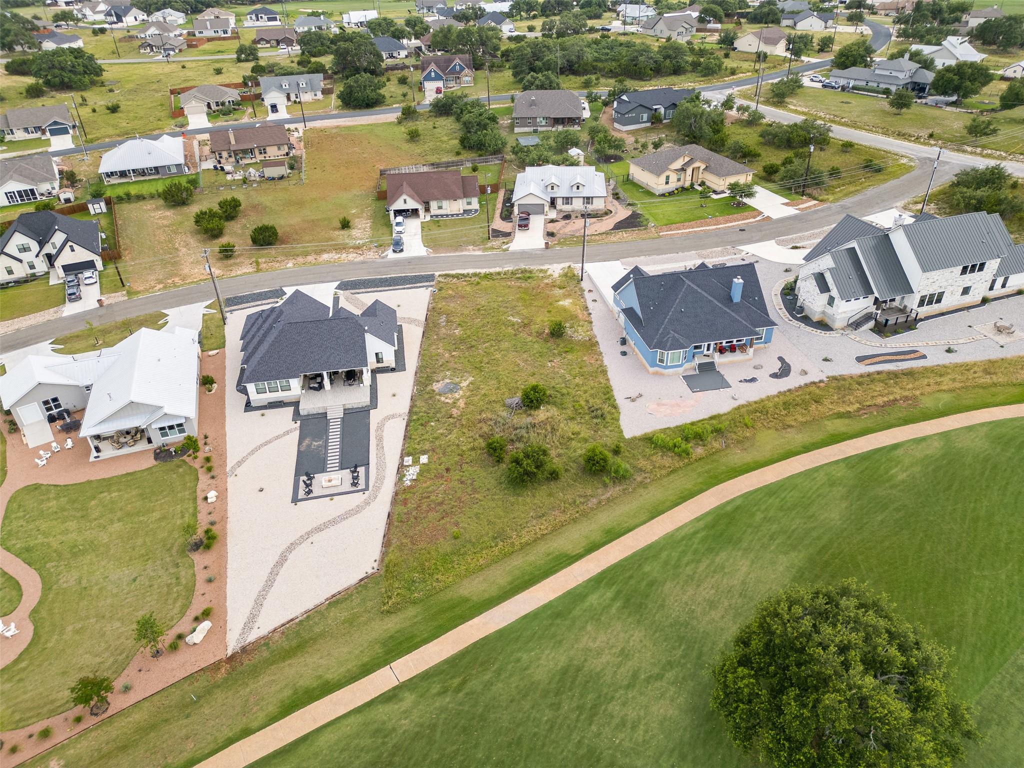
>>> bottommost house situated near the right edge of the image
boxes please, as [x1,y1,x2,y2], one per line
[792,206,1024,333]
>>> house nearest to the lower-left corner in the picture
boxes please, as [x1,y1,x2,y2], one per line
[7,319,204,461]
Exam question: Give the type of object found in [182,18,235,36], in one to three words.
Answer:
house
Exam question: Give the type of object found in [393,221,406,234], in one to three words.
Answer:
vehicle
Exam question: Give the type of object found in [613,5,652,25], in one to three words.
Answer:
house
